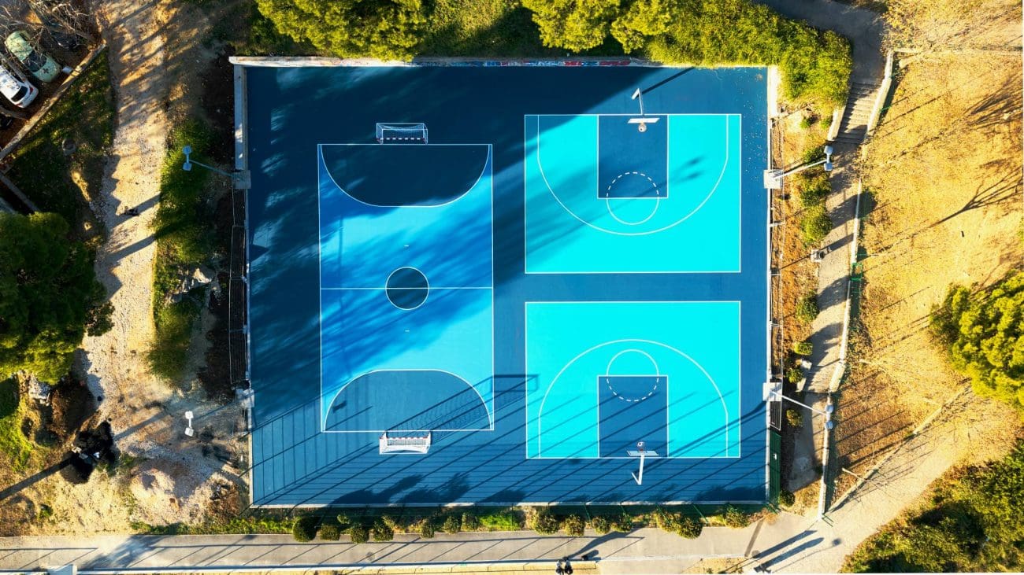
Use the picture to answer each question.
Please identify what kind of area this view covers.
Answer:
sports ground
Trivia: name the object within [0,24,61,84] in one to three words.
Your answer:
car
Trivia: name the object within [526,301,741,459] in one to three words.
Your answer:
basketball court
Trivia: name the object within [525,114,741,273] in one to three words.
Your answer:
basketball court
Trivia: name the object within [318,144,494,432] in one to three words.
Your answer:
soccer field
